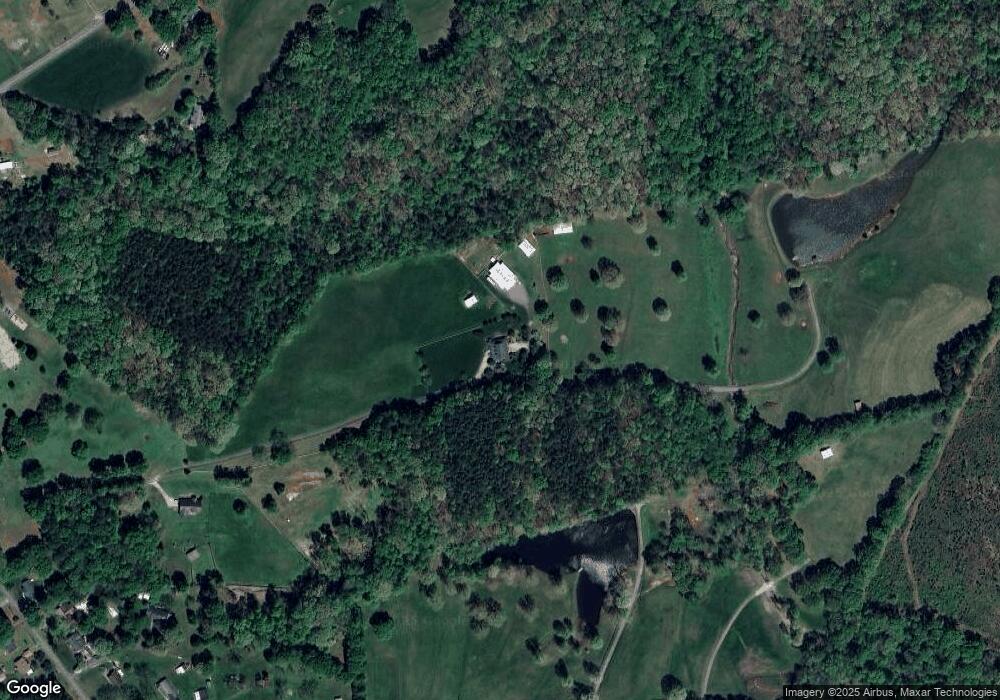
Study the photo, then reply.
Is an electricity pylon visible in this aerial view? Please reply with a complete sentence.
No, I find no electricity pylon anywhere in the image.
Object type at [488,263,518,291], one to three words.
barn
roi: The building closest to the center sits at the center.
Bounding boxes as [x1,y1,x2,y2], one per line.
[491,339,514,364]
